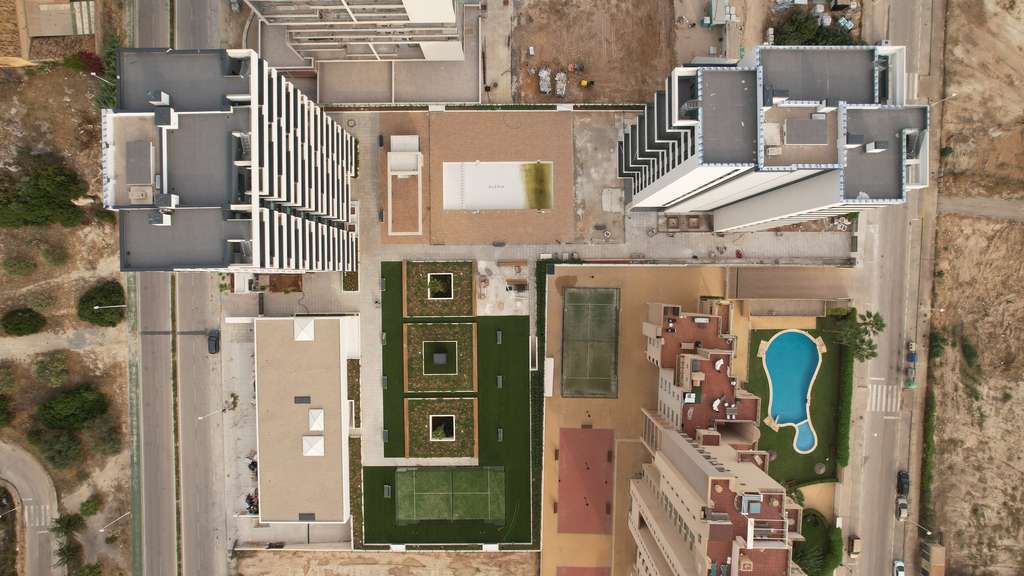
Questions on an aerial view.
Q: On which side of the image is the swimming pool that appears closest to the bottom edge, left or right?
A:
right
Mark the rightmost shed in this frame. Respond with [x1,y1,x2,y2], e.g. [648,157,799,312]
[913,539,946,576]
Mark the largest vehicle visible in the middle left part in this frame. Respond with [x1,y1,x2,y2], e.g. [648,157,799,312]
[205,330,218,353]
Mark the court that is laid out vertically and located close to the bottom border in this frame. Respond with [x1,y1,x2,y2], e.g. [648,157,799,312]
[558,429,616,576]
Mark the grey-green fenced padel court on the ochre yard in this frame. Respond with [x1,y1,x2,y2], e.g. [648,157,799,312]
[561,288,624,402]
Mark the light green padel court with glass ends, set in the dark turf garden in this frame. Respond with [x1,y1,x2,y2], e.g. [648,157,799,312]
[394,469,505,526]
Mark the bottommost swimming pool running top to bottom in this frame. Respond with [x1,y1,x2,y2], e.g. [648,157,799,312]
[764,330,821,454]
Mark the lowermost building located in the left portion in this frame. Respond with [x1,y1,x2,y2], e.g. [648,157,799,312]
[254,315,362,524]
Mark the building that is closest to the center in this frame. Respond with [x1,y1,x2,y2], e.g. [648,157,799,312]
[387,136,426,236]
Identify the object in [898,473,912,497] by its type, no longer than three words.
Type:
car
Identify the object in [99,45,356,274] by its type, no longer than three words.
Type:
building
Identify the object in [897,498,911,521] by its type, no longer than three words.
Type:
car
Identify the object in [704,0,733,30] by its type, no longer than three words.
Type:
shed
